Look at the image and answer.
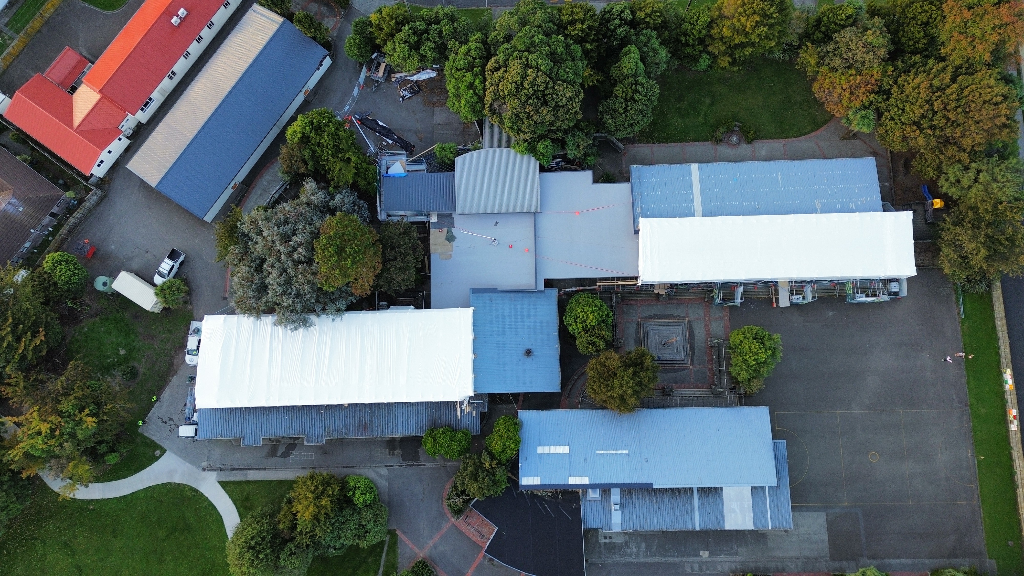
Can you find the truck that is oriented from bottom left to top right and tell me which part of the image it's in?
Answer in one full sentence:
The truck that is oriented from bottom left to top right appears toward the left of the photo.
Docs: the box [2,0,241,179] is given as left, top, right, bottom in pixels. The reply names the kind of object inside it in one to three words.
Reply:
building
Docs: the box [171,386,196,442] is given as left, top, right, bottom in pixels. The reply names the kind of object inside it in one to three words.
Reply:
truck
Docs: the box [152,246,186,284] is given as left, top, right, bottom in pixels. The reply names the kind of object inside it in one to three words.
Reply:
truck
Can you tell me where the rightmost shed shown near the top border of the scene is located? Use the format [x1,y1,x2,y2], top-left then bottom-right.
[126,4,331,221]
